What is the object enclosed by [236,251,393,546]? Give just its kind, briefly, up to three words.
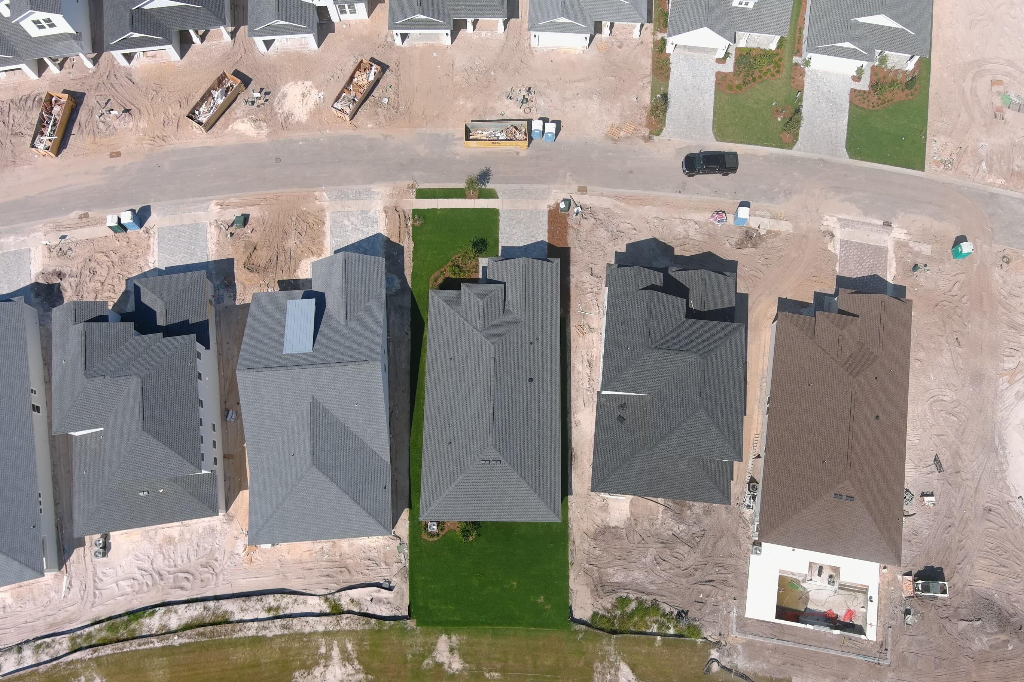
house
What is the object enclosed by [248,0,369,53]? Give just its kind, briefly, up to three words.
house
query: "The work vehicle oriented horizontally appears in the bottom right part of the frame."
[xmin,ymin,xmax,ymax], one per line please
[903,577,956,603]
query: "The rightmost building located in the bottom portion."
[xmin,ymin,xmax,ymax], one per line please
[752,287,914,568]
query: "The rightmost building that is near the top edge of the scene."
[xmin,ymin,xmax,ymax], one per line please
[801,0,932,75]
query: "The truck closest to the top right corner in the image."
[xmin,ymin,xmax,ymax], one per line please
[680,152,739,178]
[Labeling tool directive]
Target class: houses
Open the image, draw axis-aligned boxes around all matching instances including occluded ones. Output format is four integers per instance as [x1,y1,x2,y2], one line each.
[0,0,94,84]
[752,287,914,568]
[236,251,393,546]
[801,0,932,75]
[388,0,507,45]
[107,0,234,65]
[590,259,745,506]
[53,270,225,539]
[248,0,369,53]
[666,0,793,57]
[528,0,647,49]
[419,258,562,523]
[0,296,60,587]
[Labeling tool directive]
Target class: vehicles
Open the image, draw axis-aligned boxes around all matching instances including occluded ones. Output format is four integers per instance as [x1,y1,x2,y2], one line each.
[680,152,739,178]
[903,577,956,603]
